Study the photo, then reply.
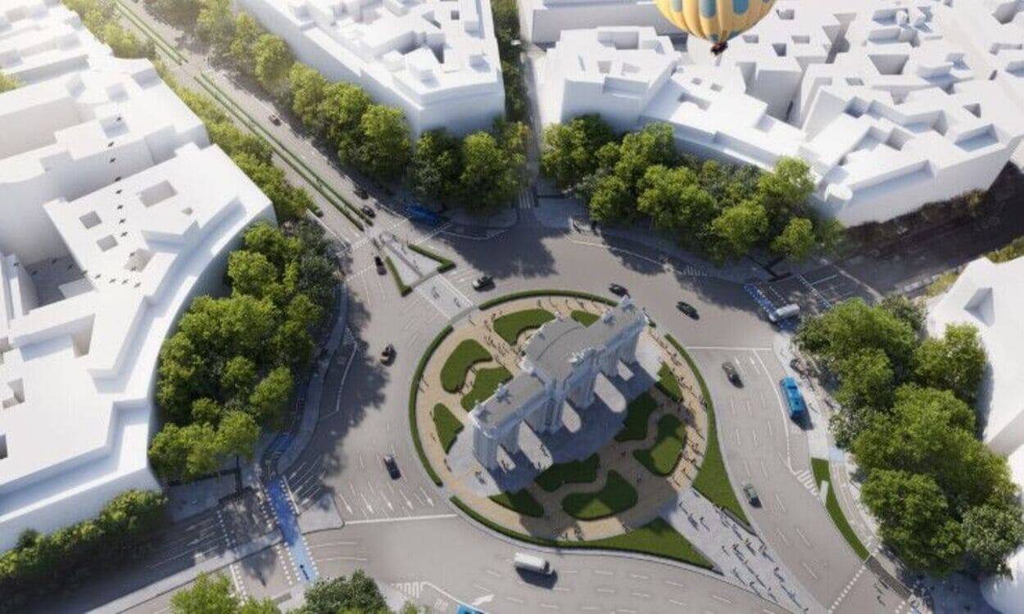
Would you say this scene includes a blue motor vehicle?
Yes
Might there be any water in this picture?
No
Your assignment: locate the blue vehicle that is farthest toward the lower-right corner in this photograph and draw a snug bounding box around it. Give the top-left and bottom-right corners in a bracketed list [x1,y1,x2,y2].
[782,370,808,414]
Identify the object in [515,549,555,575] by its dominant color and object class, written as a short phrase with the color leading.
white truck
